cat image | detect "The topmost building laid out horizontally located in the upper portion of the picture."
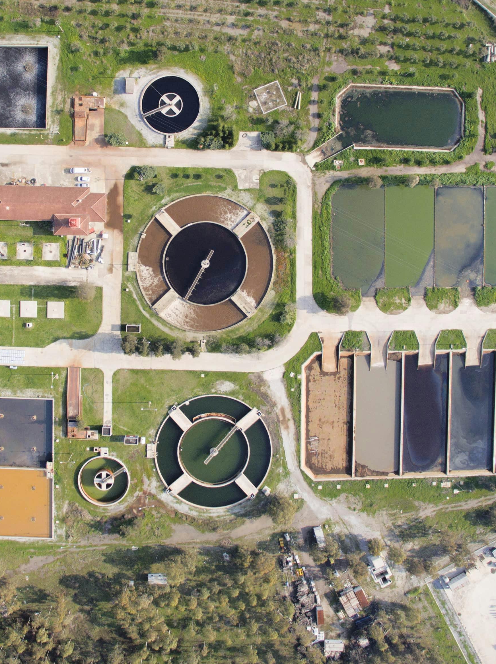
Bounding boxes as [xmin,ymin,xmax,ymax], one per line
[0,185,108,235]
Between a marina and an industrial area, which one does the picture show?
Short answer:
industrial area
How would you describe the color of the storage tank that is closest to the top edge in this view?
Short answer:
black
